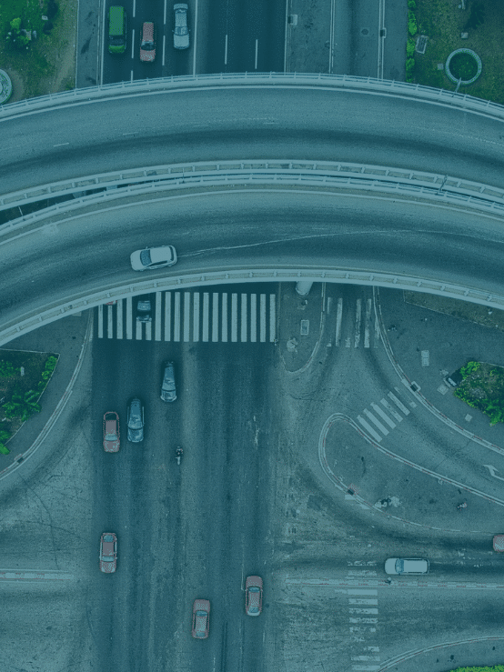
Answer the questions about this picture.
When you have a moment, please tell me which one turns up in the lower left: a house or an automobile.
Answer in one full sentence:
Visible in the lower left is an automobile.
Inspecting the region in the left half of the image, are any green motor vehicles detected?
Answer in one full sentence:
Yes, a green motor vehicle is visible in the left half of the image.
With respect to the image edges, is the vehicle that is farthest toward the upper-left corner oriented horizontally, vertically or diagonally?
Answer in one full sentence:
The vehicle that is farthest toward the upper-left corner runs vertically in the image.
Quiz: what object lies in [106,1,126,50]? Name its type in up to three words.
vehicle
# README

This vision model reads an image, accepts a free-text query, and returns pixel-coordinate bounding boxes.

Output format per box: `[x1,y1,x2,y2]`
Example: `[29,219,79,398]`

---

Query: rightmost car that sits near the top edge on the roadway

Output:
[171,2,190,45]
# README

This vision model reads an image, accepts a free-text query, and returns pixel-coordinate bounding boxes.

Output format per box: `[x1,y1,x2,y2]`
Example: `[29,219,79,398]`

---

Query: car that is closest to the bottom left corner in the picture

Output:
[98,532,117,574]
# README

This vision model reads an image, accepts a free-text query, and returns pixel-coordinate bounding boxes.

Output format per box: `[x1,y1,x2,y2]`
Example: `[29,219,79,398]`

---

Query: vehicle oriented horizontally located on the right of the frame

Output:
[386,556,429,576]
